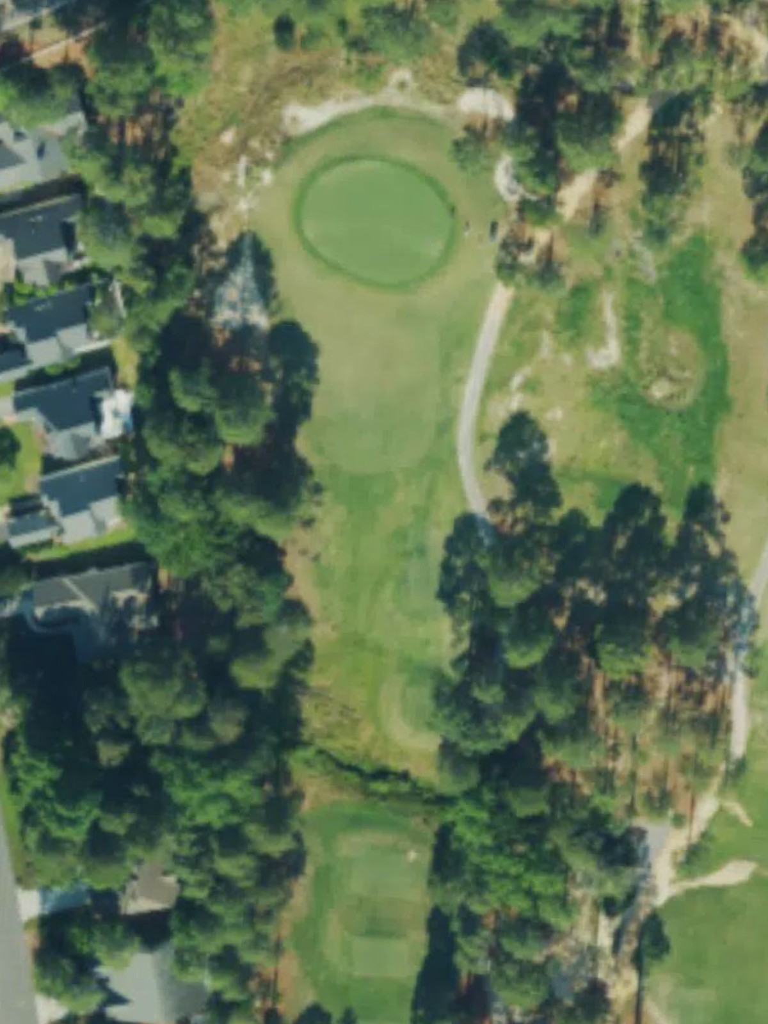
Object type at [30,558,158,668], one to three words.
house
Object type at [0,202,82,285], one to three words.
house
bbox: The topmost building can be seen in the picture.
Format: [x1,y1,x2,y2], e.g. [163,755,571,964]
[0,113,75,192]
